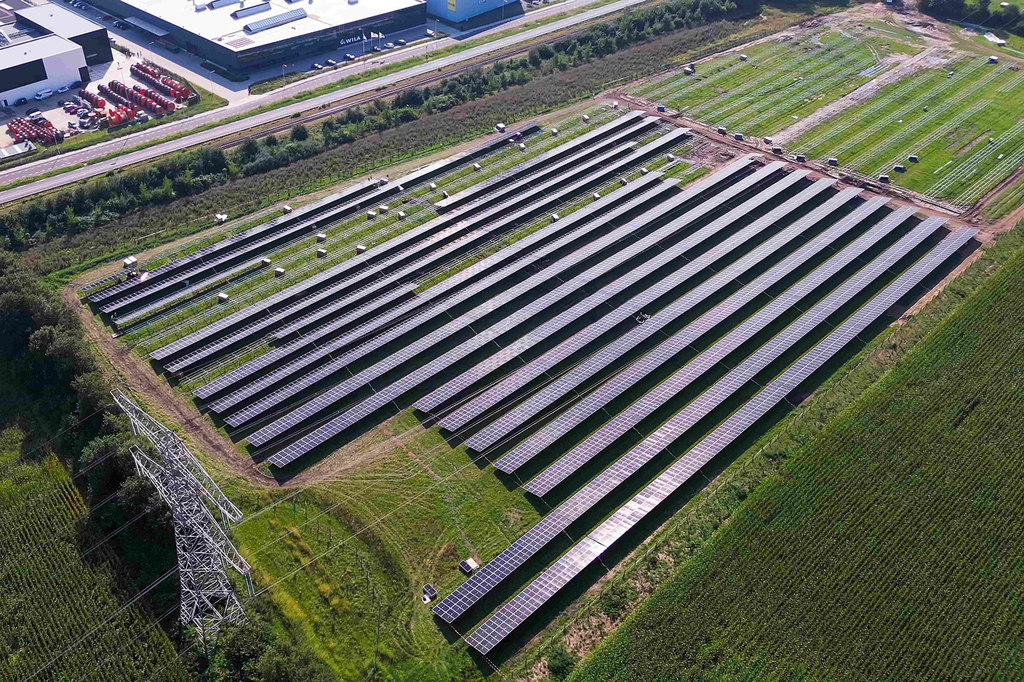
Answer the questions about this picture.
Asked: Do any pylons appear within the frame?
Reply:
Yes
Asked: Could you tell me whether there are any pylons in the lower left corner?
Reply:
Yes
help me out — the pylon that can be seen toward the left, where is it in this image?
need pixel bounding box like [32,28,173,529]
[110,394,267,646]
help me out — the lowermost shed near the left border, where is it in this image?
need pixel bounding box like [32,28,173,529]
[0,141,40,169]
